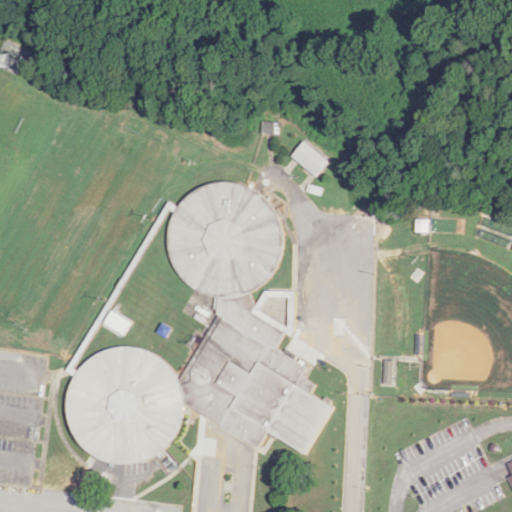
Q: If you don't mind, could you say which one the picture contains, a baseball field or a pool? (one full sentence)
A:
The image shows a baseball field.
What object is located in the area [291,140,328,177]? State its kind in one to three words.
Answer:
barn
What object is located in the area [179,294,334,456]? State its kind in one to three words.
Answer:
building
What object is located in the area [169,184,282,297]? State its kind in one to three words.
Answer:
building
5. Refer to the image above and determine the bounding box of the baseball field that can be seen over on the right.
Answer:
[428,320,495,383]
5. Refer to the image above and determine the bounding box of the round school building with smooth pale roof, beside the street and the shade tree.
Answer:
[68,348,184,463]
